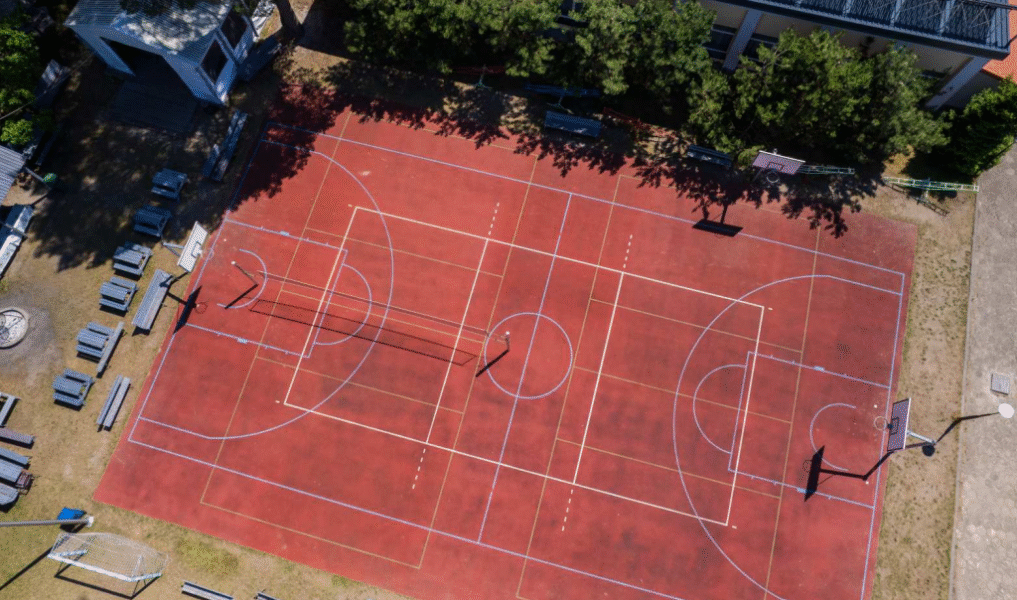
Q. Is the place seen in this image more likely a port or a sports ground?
sports ground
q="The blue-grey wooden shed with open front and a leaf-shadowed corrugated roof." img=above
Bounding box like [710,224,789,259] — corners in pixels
[62,0,267,99]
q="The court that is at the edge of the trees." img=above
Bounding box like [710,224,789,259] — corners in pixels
[91,76,918,600]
